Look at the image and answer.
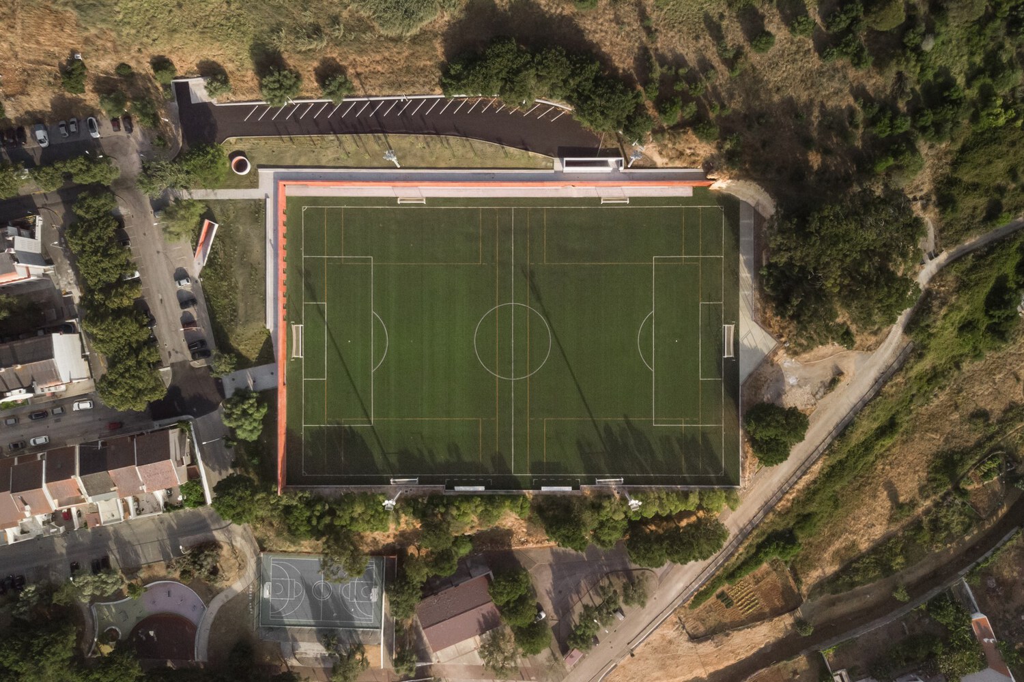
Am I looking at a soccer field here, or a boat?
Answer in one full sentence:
Looking from above, you can make out a soccer field.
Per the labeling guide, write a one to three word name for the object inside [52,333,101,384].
house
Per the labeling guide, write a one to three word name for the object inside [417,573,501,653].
building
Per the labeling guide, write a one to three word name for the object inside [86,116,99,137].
vehicle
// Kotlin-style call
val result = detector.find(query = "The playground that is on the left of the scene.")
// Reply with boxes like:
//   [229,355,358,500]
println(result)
[93,582,201,663]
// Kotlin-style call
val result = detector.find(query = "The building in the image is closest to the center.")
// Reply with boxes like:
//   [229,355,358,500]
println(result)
[564,157,625,171]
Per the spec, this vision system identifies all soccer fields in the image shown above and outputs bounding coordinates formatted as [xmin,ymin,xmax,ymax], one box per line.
[286,187,740,490]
